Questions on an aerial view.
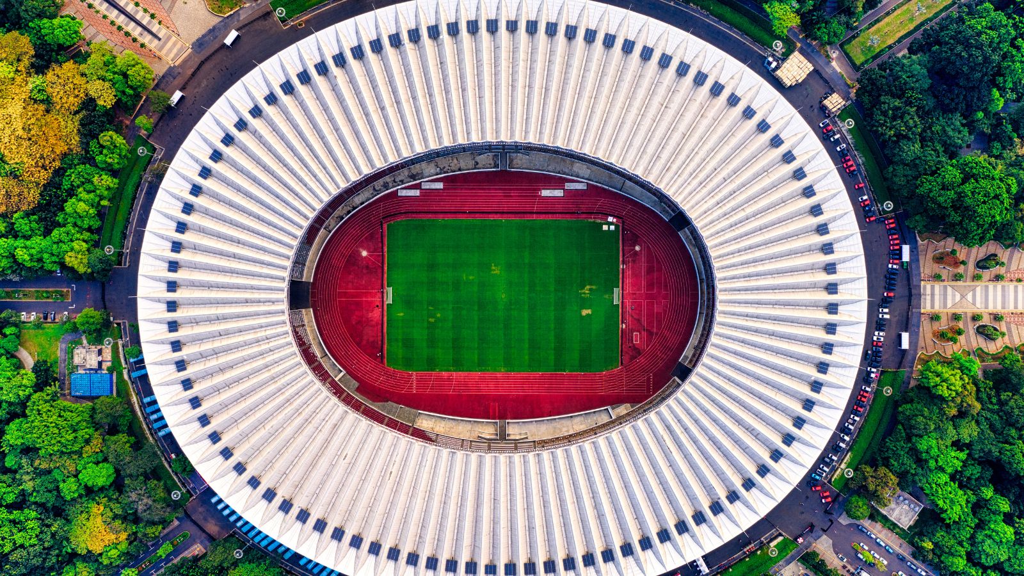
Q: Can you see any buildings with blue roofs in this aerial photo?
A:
Yes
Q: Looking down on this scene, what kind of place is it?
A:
sports ground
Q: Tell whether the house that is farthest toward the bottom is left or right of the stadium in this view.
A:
on its right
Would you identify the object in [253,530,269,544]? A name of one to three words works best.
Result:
vehicle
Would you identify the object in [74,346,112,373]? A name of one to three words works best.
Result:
building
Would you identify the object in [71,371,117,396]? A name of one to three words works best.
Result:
building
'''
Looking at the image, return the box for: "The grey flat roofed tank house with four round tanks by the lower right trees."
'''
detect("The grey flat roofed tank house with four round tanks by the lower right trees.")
[870,490,923,534]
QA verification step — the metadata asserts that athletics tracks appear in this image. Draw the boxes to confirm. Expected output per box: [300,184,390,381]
[310,170,699,420]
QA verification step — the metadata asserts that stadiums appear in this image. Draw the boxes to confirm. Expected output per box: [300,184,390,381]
[129,0,868,576]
